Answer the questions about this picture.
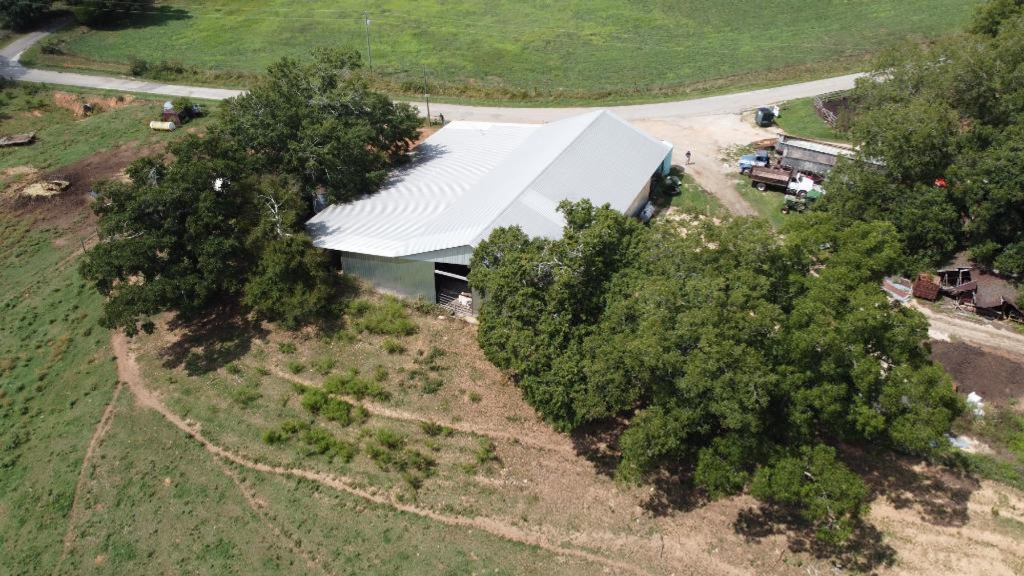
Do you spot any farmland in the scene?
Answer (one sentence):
Yes, the picture does contain farmland.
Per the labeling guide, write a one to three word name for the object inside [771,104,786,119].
car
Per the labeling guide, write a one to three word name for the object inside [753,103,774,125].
vehicle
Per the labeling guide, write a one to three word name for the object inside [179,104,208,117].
vehicle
